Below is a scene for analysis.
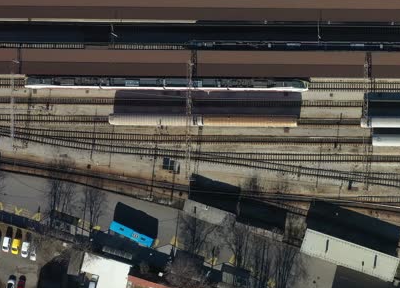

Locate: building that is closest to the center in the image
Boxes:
[182,199,230,226]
